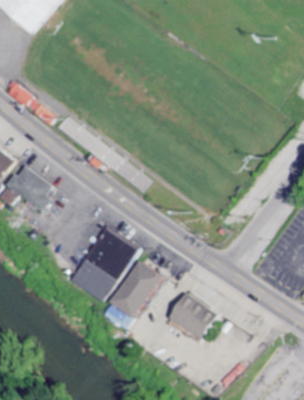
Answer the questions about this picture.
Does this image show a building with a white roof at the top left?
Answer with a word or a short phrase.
Yes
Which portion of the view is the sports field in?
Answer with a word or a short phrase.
top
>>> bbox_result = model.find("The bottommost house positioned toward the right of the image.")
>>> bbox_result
[170,294,216,342]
